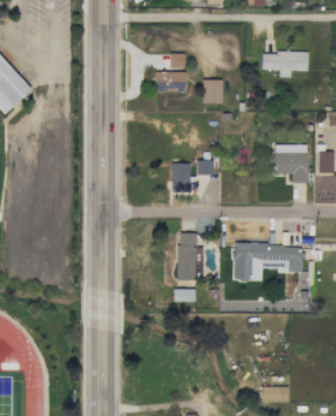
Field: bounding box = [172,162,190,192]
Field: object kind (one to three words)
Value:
house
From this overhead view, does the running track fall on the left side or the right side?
left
